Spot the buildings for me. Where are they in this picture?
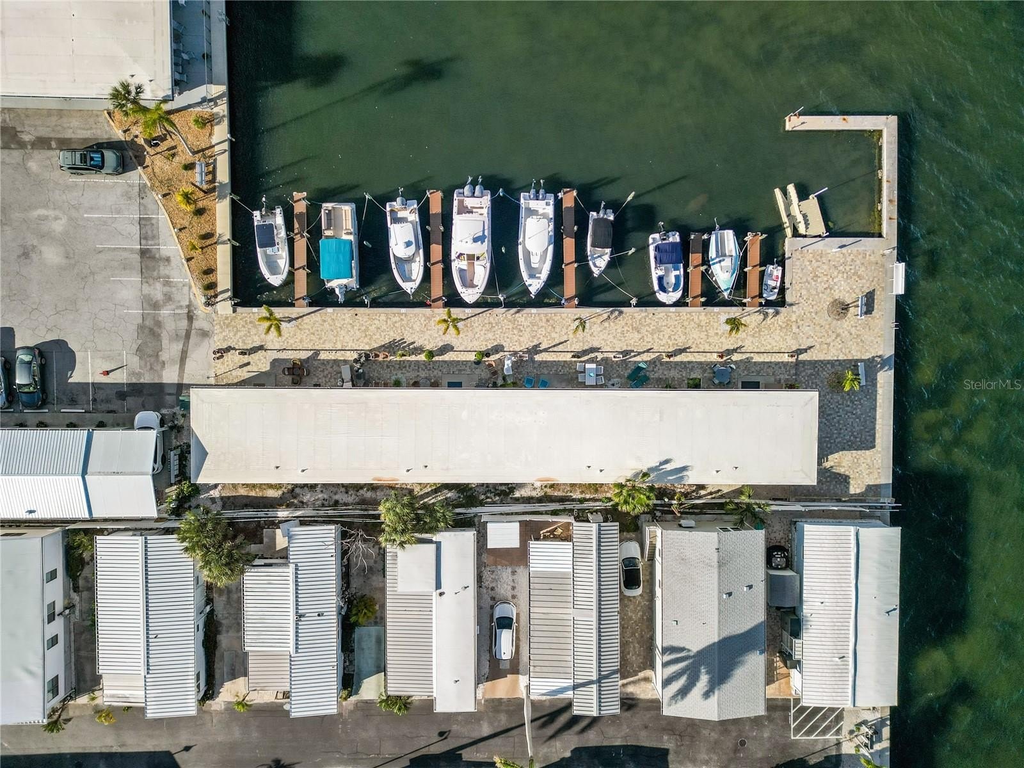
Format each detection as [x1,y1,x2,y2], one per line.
[243,523,346,715]
[778,520,902,708]
[0,533,67,725]
[642,523,767,719]
[528,521,621,717]
[487,519,520,549]
[386,526,481,711]
[0,428,177,520]
[191,388,818,484]
[94,532,211,718]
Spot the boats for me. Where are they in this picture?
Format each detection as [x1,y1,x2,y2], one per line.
[648,218,684,304]
[386,183,425,297]
[253,196,292,286]
[709,222,740,299]
[319,203,357,304]
[516,178,554,299]
[585,201,613,278]
[450,167,494,302]
[761,256,781,301]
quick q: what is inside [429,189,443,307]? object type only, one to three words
pier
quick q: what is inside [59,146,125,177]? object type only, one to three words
car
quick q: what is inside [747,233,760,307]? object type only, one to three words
pier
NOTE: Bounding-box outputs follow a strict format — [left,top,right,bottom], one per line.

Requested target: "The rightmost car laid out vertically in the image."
[621,539,645,597]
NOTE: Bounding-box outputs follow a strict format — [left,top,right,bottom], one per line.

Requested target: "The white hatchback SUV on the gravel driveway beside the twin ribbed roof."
[490,600,519,660]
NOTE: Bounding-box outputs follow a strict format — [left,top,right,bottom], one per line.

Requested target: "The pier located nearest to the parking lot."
[293,192,308,307]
